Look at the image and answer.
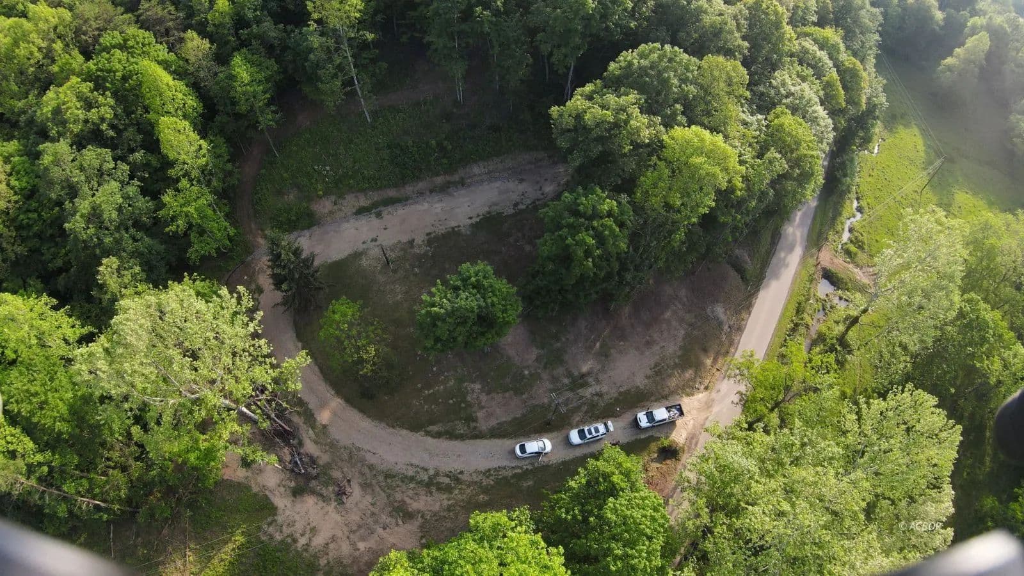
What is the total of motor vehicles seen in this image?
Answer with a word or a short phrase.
3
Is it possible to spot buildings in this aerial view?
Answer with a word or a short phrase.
No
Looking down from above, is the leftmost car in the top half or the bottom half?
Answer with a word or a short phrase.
bottom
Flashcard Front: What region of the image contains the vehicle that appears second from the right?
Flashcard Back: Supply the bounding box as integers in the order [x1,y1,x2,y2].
[566,418,614,447]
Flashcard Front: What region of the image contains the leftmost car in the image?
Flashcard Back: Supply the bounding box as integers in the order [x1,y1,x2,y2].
[513,436,553,460]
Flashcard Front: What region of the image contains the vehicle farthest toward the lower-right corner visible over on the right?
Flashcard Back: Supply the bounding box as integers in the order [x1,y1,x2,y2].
[633,402,686,430]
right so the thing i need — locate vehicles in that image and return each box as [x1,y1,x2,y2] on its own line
[633,402,686,430]
[566,418,614,447]
[513,436,553,460]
